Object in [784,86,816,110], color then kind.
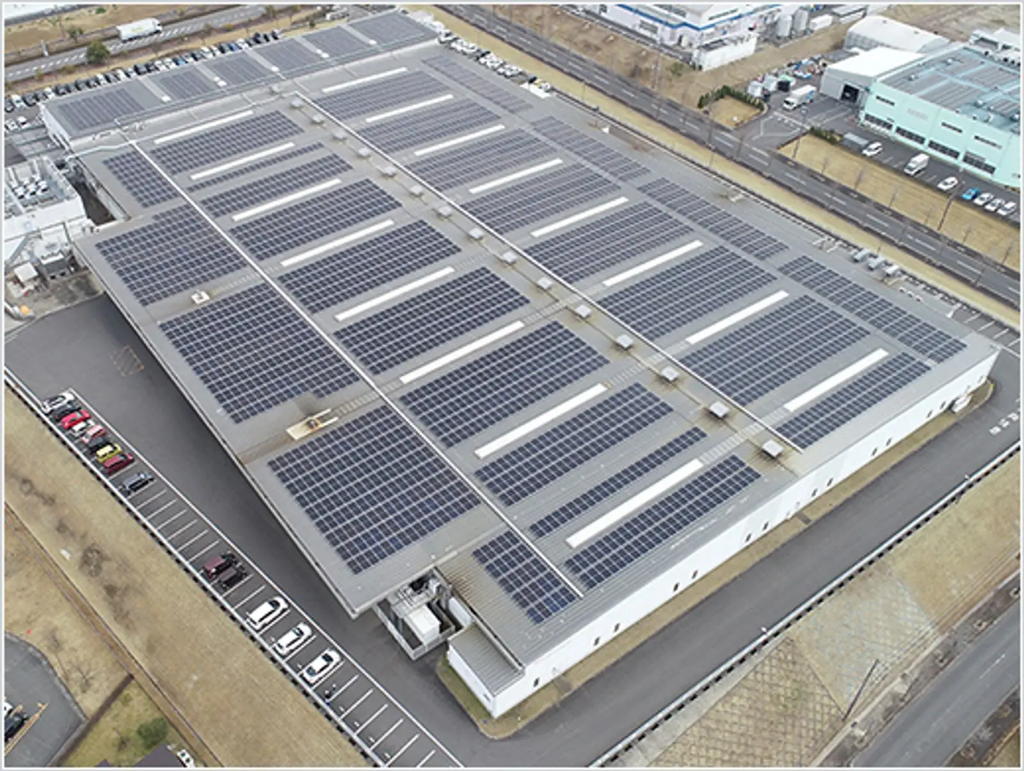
white truck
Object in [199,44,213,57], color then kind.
white vehicle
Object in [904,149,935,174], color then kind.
white vehicle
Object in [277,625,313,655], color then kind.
white car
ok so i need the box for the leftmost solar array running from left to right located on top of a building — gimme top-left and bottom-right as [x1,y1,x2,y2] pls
[58,87,144,128]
